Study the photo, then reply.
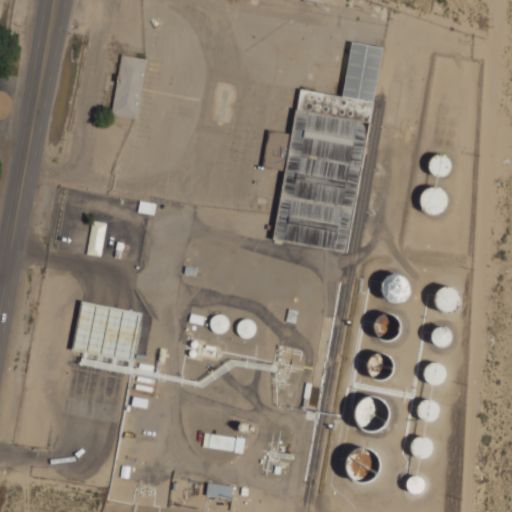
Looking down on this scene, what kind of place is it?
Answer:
industrial area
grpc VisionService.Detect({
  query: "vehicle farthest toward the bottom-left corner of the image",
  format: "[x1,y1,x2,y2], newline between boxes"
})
[50,449,86,465]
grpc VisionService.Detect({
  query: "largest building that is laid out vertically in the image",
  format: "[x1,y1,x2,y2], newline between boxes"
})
[274,89,374,253]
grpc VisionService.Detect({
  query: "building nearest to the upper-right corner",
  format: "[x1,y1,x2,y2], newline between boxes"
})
[343,42,384,99]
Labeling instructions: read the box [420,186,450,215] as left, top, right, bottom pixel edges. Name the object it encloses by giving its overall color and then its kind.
white storage tank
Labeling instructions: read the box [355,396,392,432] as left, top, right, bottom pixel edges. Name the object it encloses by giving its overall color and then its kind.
white storage tank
